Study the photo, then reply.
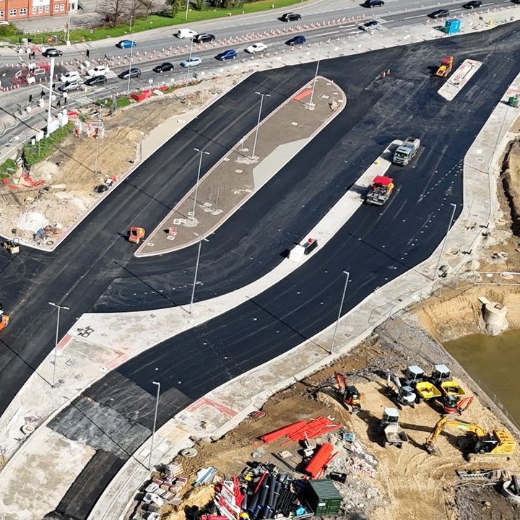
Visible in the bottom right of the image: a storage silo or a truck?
truck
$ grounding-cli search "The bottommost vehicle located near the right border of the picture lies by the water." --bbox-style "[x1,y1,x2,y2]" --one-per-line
[426,411,508,456]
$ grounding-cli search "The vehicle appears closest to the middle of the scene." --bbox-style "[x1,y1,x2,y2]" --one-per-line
[129,224,147,244]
